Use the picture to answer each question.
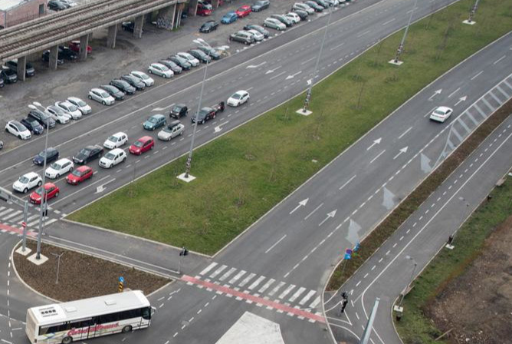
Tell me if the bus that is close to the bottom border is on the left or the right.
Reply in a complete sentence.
It is on the left.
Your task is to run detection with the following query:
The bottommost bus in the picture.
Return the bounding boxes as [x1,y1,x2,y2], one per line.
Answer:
[28,288,163,344]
